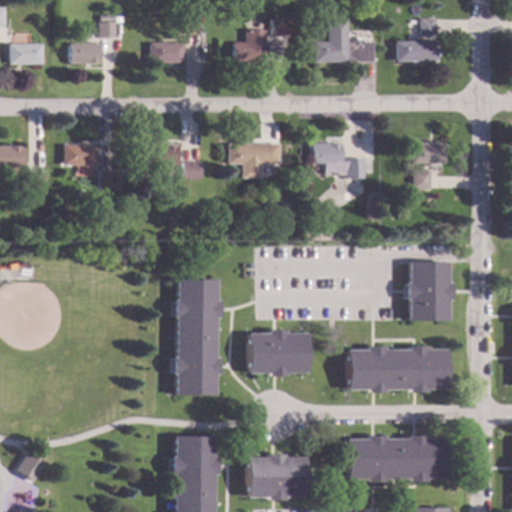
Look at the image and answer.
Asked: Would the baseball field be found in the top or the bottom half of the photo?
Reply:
bottom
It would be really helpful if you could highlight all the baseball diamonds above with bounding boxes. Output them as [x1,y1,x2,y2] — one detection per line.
[0,263,158,438]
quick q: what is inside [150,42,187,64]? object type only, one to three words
house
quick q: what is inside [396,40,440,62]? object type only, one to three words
house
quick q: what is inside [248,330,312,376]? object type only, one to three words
building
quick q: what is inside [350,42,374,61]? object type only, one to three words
building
